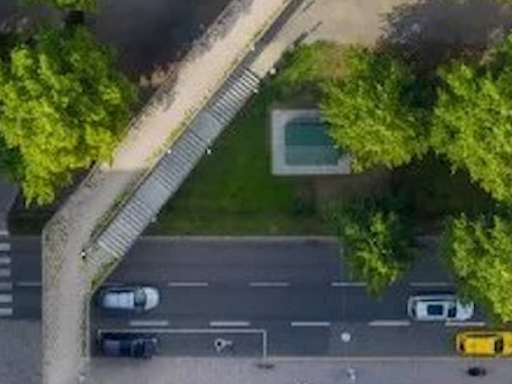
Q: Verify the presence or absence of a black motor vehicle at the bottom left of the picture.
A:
Yes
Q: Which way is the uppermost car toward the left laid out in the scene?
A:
horizontally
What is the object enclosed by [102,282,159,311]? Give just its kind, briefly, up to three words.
car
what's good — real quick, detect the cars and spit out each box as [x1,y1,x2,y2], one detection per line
[99,330,157,360]
[455,328,512,357]
[102,282,159,311]
[409,293,472,323]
